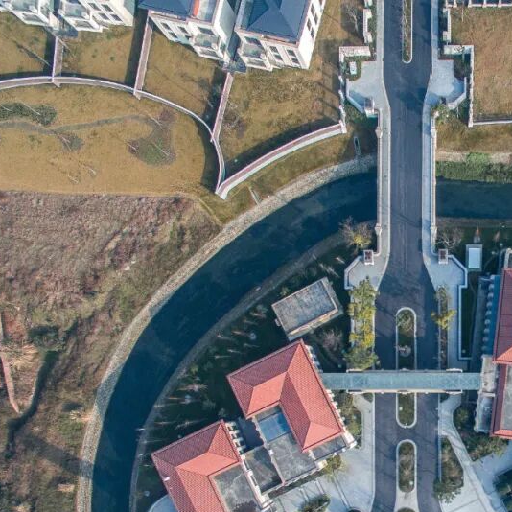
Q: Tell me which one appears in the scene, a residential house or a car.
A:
residential house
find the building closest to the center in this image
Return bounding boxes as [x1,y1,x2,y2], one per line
[272,278,340,335]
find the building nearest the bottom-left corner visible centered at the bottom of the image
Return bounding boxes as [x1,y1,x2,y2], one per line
[151,420,284,512]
